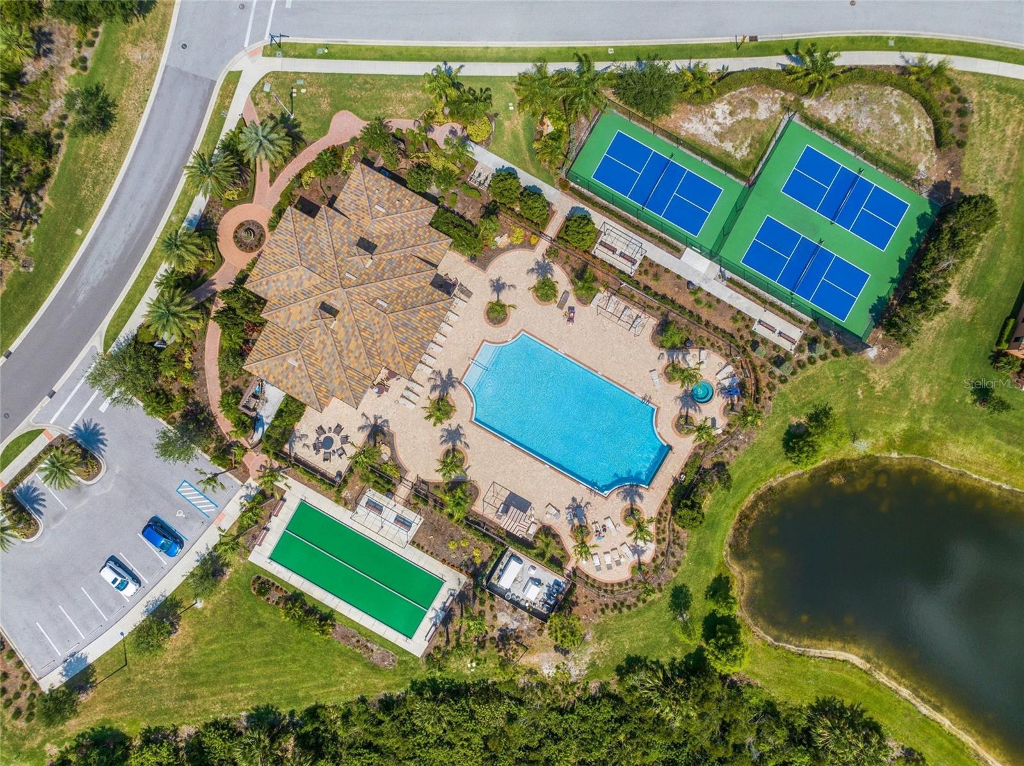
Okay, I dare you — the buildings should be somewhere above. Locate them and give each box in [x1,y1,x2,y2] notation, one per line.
[1008,320,1024,368]
[241,162,454,412]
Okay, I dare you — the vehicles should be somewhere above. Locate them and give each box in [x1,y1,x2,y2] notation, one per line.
[142,518,183,556]
[98,558,140,596]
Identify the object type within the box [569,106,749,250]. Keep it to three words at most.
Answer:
sports court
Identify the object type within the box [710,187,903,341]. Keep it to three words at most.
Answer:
sports court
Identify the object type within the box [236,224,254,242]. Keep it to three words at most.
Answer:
fountain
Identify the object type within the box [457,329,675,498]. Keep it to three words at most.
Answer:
swimming pool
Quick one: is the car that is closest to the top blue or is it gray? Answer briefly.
blue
